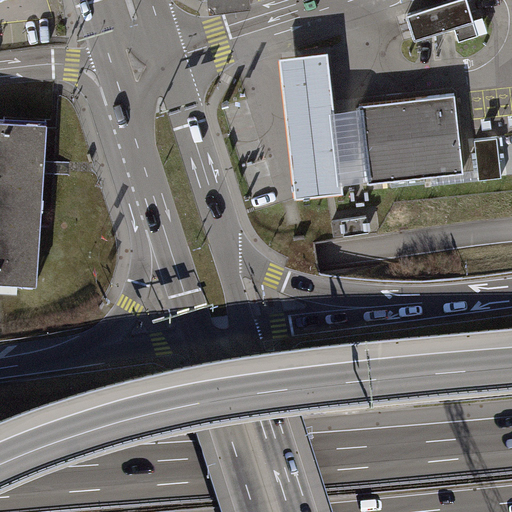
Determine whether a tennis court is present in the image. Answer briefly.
No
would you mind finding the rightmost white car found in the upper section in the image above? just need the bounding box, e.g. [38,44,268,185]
[250,193,276,206]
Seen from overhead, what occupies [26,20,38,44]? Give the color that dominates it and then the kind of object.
white vehicle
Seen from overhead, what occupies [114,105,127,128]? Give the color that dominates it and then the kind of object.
gray vehicle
